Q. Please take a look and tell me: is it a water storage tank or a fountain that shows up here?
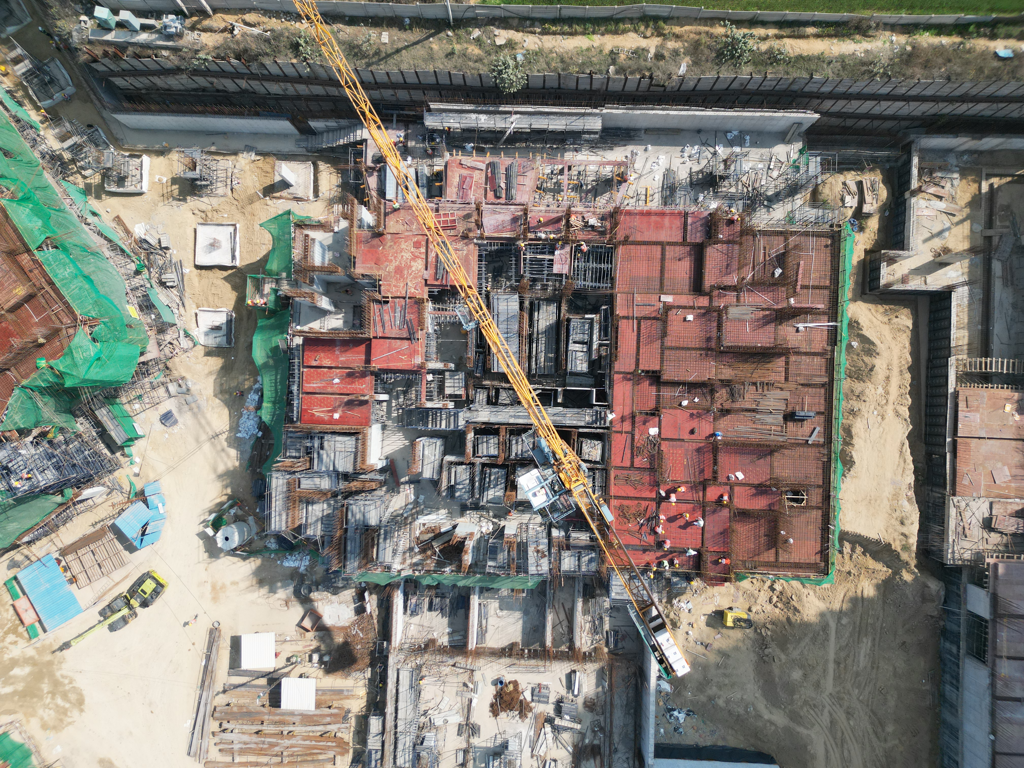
water storage tank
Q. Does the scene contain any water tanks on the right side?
No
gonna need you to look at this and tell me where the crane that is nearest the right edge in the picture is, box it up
[296,0,699,687]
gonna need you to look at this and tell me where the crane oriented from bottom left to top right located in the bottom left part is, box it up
[62,564,175,656]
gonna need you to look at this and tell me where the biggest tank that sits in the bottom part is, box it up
[205,508,257,549]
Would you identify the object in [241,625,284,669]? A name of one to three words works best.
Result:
shed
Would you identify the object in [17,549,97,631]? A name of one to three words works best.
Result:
shed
